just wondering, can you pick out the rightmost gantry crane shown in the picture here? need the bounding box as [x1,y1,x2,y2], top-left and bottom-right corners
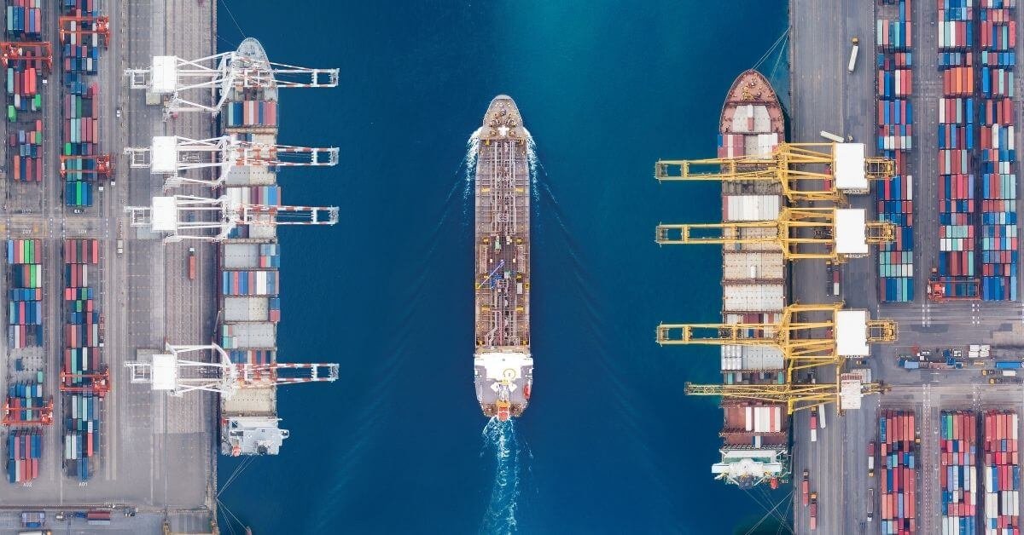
[920,276,983,303]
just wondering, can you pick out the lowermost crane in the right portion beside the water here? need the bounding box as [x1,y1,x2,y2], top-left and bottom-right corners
[684,353,889,422]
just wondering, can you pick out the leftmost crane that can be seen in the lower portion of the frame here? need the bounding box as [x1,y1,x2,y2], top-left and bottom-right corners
[2,401,61,426]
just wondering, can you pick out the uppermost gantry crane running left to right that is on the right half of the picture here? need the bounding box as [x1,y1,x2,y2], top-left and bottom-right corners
[657,135,896,209]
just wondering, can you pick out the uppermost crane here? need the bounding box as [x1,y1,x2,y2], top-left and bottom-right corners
[58,14,117,41]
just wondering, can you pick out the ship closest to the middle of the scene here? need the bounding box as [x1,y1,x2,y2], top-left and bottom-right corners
[473,94,533,420]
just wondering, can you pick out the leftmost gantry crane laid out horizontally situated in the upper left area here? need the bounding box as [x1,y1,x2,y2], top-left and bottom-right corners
[0,40,59,67]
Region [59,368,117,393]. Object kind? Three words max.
container crane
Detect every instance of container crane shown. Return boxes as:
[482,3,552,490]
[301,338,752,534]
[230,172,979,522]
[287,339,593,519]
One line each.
[125,52,337,117]
[125,187,337,251]
[125,336,337,404]
[58,14,117,41]
[920,276,983,303]
[659,293,897,370]
[125,128,337,192]
[2,401,61,426]
[657,203,896,272]
[59,368,117,393]
[657,135,896,209]
[0,40,59,67]
[58,153,120,178]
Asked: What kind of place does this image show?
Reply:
port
